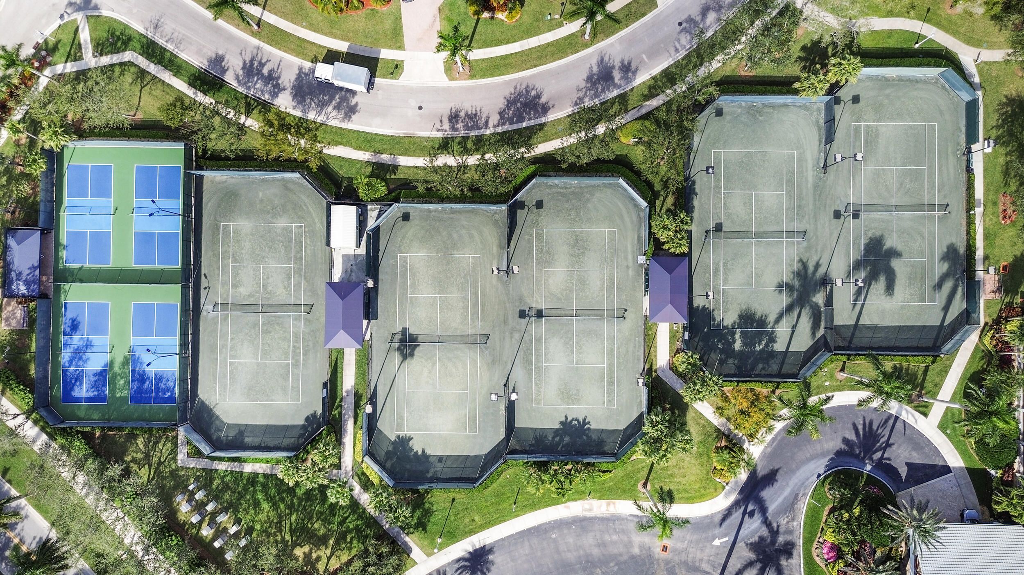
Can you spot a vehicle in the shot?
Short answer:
Yes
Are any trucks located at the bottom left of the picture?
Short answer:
No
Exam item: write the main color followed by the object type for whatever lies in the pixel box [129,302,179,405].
blue sports court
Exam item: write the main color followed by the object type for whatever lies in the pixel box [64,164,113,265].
blue sports court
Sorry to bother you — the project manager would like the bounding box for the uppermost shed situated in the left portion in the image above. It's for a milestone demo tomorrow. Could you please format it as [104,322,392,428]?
[330,205,361,251]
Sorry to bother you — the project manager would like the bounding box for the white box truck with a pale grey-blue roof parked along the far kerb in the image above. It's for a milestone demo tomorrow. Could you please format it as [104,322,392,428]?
[316,60,376,92]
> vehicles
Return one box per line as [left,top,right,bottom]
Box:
[962,509,983,523]
[316,60,376,92]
